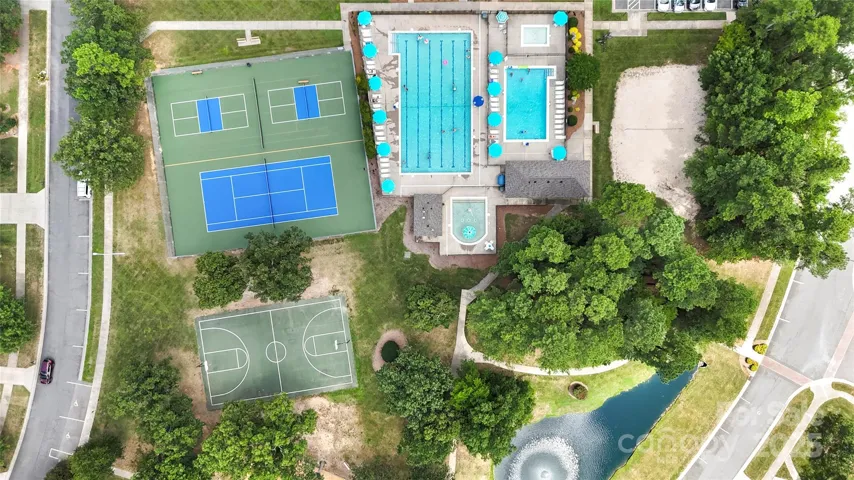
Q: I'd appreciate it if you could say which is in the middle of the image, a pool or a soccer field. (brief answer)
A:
pool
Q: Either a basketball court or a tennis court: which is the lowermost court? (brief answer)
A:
basketball court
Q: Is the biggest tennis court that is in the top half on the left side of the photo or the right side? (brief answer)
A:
left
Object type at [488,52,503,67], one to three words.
umbrella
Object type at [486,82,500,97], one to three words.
umbrella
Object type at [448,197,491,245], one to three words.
swimming pool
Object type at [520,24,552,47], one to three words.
swimming pool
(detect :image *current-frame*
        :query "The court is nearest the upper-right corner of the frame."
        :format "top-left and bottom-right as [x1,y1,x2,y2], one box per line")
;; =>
[610,62,712,214]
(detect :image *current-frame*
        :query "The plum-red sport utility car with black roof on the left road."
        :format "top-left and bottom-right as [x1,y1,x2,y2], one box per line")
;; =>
[38,357,56,384]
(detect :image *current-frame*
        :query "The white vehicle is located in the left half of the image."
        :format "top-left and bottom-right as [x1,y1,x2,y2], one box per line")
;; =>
[76,173,92,200]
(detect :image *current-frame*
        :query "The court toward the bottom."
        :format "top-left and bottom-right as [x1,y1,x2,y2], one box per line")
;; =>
[196,296,357,410]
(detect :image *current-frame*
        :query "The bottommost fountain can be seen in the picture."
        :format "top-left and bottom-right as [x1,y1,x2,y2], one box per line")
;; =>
[503,434,585,480]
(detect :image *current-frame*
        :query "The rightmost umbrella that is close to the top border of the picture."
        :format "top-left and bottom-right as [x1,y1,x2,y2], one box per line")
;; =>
[552,13,566,28]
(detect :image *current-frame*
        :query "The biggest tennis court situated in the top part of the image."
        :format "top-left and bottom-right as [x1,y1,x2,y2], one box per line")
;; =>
[156,52,375,257]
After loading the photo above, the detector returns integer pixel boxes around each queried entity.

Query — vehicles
[735,0,750,9]
[689,0,702,12]
[657,0,671,12]
[76,173,92,200]
[38,357,56,384]
[673,0,686,14]
[703,0,717,12]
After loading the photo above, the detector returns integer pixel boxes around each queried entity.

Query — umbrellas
[368,77,382,92]
[487,112,502,128]
[358,12,371,27]
[552,13,566,28]
[380,179,394,193]
[362,44,377,59]
[495,12,506,25]
[486,82,500,97]
[474,96,484,107]
[377,142,391,157]
[551,147,565,160]
[373,110,387,124]
[488,52,503,67]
